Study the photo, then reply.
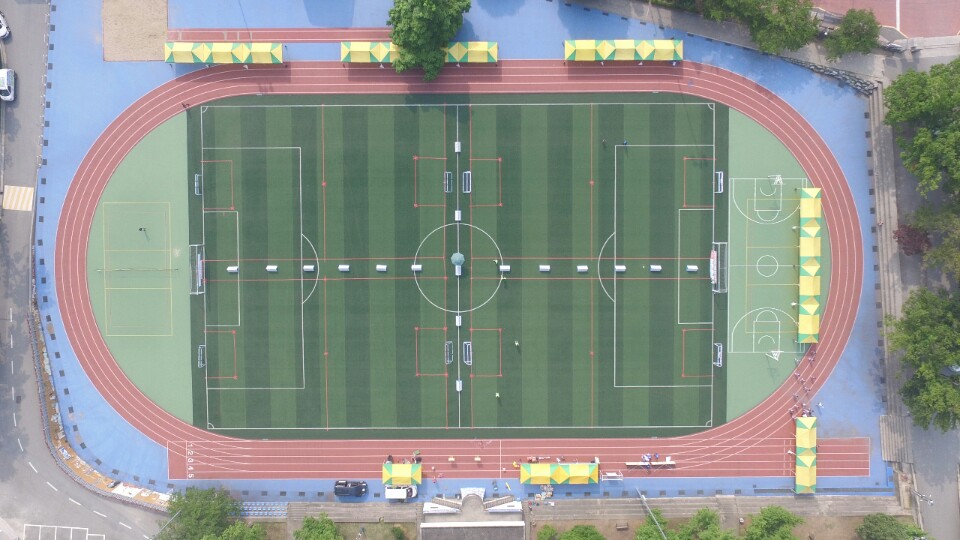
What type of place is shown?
sports ground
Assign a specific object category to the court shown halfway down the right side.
basketball court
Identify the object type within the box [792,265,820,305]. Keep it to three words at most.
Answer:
tent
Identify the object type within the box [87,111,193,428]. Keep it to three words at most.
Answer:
sports court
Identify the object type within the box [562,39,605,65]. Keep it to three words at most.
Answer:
tent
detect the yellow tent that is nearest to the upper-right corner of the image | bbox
[792,188,821,228]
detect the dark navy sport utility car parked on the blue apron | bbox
[335,479,367,496]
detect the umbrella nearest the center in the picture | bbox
[451,255,464,269]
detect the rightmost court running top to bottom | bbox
[727,107,832,424]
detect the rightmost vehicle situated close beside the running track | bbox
[385,484,418,498]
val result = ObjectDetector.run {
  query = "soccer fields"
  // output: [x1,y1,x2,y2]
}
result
[188,92,728,441]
